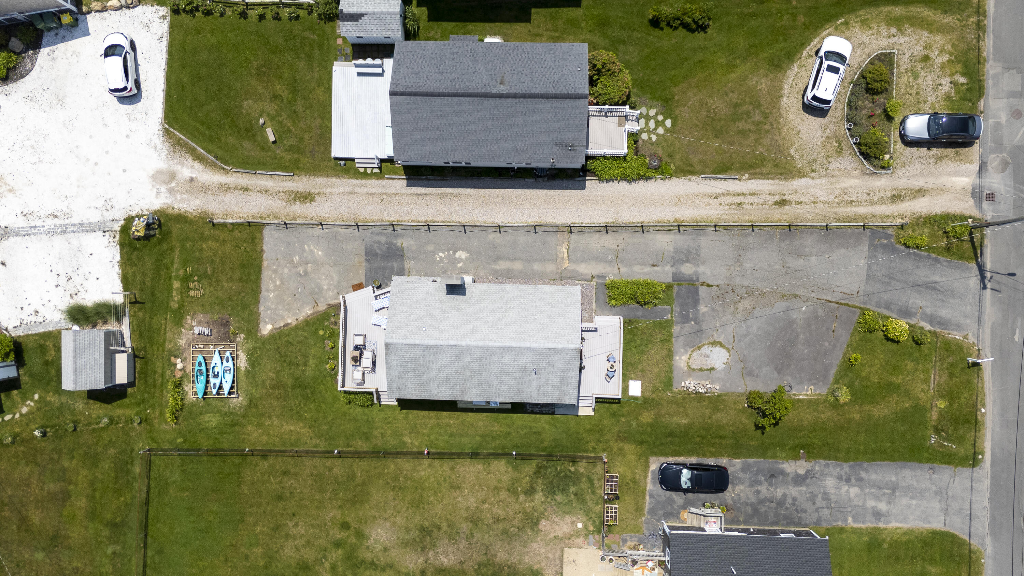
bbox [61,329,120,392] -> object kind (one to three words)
shed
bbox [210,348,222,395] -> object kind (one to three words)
boat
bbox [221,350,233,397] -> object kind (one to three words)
boat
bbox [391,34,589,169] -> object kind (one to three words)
house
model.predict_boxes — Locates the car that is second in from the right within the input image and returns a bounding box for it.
[803,37,850,113]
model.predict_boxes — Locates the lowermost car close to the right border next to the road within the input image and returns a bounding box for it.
[898,110,984,146]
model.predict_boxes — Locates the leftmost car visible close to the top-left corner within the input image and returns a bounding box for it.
[95,31,138,96]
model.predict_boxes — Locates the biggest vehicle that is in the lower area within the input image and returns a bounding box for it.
[657,459,731,496]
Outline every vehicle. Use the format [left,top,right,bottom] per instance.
[657,459,731,496]
[898,110,984,146]
[803,37,850,113]
[95,31,138,96]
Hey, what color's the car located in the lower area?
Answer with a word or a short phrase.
black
